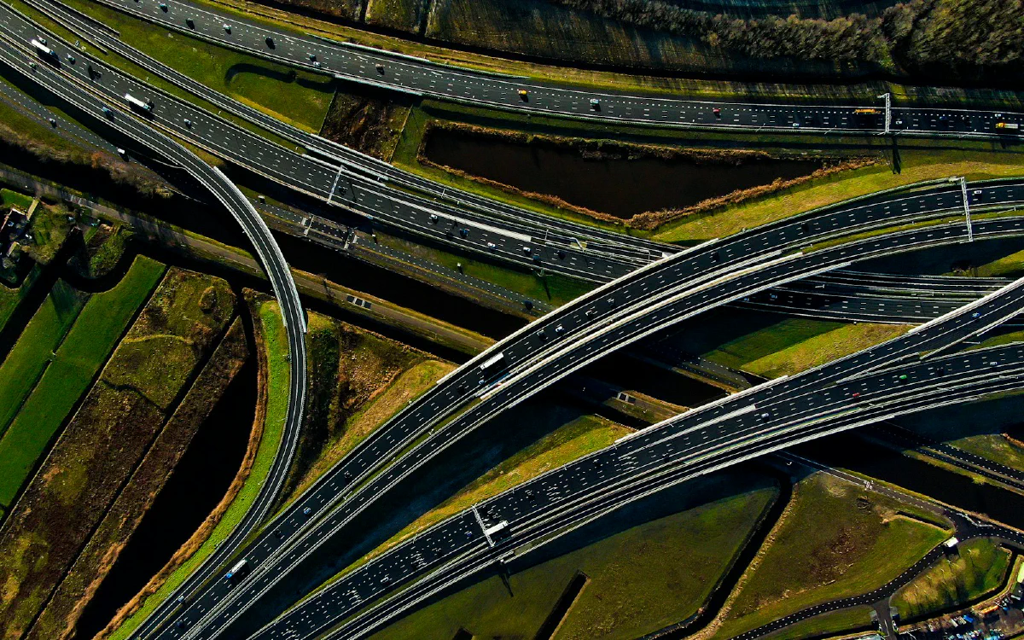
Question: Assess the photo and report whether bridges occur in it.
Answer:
Yes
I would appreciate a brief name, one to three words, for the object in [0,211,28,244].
house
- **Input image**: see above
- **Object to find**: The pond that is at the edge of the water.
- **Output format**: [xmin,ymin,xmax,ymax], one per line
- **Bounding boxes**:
[422,125,827,217]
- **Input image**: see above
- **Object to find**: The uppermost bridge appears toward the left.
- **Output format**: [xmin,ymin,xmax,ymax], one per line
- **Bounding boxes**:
[321,38,433,94]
